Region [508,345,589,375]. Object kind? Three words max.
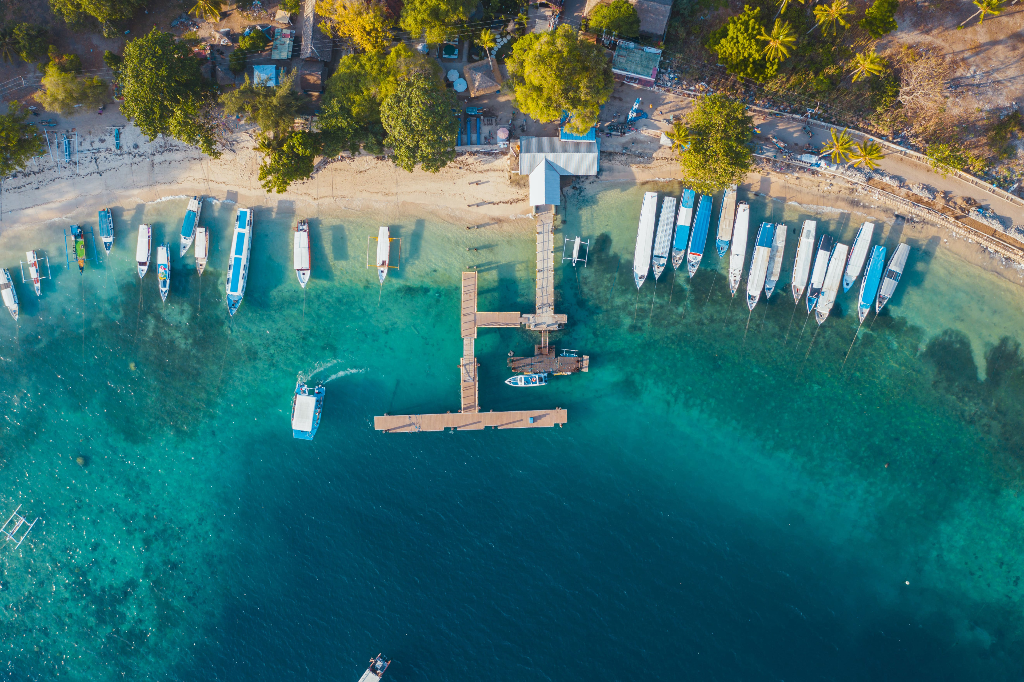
pier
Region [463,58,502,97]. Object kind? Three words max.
building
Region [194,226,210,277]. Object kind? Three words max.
boat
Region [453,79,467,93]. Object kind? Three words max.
umbrella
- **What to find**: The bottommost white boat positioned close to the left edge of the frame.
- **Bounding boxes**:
[0,505,37,549]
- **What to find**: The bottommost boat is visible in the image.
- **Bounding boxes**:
[357,646,396,682]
